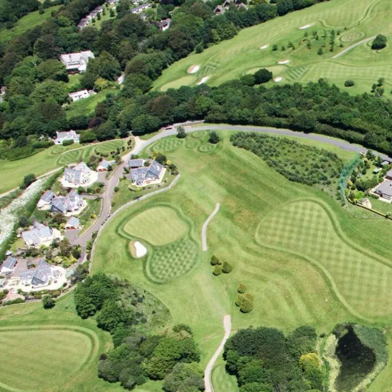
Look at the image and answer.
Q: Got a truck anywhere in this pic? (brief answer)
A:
No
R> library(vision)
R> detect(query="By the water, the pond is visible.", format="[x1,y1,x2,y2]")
[333,325,375,392]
